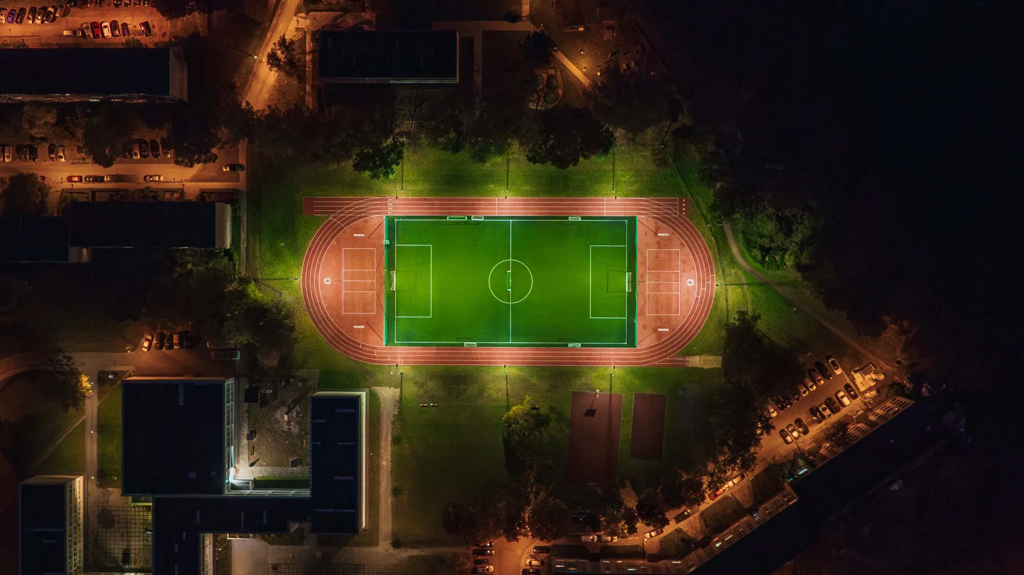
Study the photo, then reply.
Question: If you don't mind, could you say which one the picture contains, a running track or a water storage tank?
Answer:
running track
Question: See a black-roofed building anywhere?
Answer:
Yes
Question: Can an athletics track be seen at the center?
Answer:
Yes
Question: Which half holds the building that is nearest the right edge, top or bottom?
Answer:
bottom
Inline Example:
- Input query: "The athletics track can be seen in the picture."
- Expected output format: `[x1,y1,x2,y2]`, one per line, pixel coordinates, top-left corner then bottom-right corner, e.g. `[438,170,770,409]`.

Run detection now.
[301,215,715,367]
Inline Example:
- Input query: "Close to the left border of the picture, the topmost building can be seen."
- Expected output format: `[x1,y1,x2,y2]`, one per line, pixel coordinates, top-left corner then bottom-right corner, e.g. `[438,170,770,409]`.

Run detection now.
[0,48,187,104]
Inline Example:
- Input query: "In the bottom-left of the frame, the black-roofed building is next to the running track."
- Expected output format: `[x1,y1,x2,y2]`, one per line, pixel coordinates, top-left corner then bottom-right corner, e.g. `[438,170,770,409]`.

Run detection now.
[122,379,364,575]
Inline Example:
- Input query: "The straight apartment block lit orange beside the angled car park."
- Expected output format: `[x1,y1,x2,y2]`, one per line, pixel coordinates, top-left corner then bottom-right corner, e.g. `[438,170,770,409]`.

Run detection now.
[777,396,945,528]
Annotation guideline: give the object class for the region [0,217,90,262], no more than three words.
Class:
building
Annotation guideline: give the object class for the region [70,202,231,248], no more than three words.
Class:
building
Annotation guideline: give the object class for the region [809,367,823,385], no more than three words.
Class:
car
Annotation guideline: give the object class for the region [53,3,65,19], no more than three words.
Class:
vehicle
